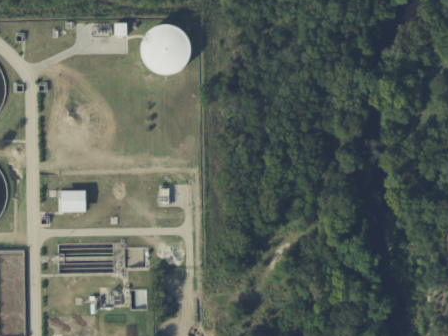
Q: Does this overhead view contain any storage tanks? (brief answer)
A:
Yes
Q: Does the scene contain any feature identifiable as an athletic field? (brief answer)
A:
No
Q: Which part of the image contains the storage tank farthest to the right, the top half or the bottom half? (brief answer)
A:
top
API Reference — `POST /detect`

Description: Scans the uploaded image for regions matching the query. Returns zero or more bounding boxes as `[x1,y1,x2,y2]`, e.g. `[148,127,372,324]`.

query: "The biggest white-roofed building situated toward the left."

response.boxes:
[58,190,87,214]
